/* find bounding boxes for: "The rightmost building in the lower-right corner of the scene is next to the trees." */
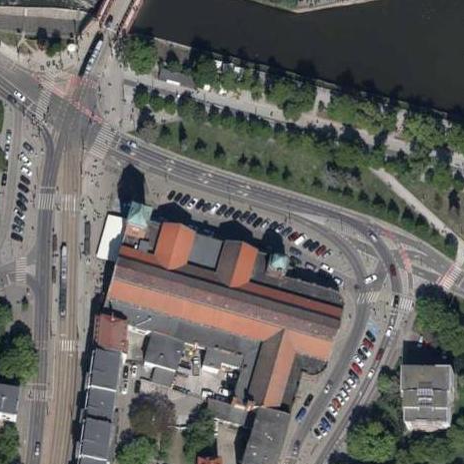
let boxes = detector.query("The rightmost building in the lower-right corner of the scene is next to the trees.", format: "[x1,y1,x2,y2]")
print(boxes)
[397,366,457,435]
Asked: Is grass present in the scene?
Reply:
Yes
